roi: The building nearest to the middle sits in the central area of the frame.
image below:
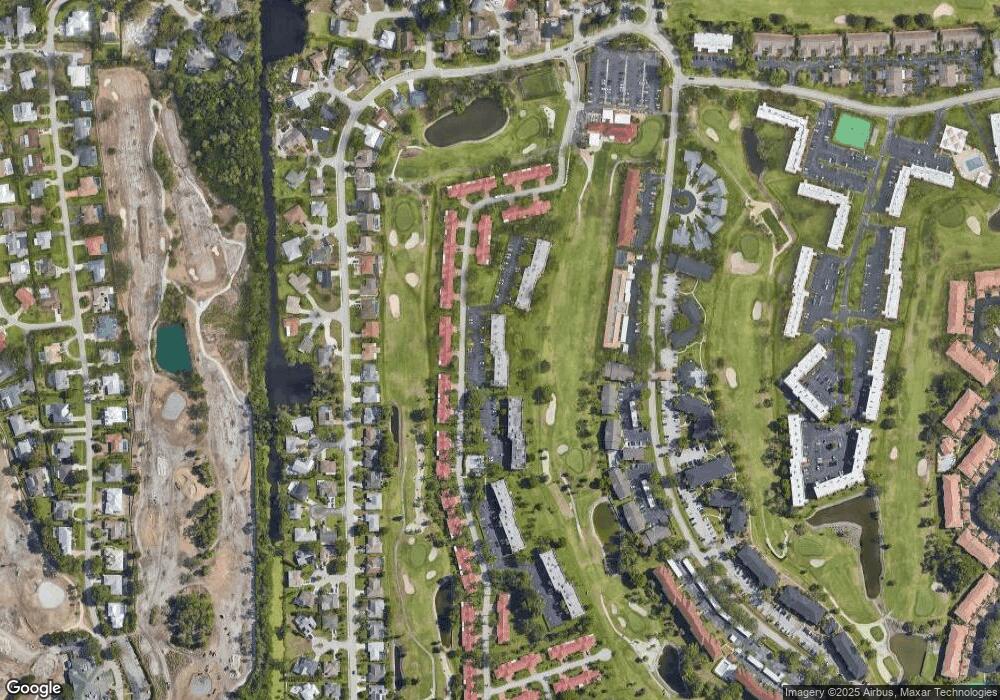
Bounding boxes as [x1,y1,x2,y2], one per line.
[490,313,510,387]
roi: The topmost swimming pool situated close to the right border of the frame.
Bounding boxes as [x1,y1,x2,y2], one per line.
[954,146,992,181]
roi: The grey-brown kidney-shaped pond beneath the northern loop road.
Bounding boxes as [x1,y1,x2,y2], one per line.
[424,97,508,147]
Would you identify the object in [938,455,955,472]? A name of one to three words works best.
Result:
swimming pool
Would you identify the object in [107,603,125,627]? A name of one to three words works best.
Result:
house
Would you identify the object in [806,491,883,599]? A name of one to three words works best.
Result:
pond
